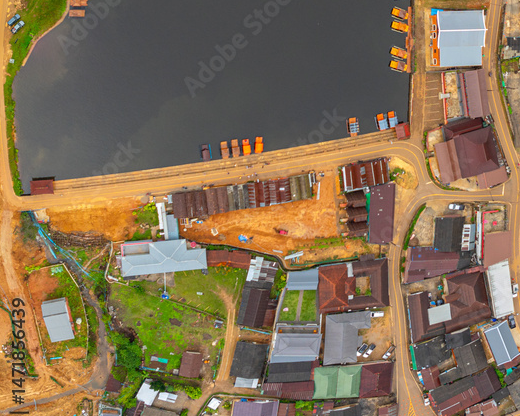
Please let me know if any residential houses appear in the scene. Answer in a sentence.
Yes, a residential house appears in the view.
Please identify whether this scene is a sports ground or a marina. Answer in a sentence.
The picture captures a marina.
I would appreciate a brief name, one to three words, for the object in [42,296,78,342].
house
